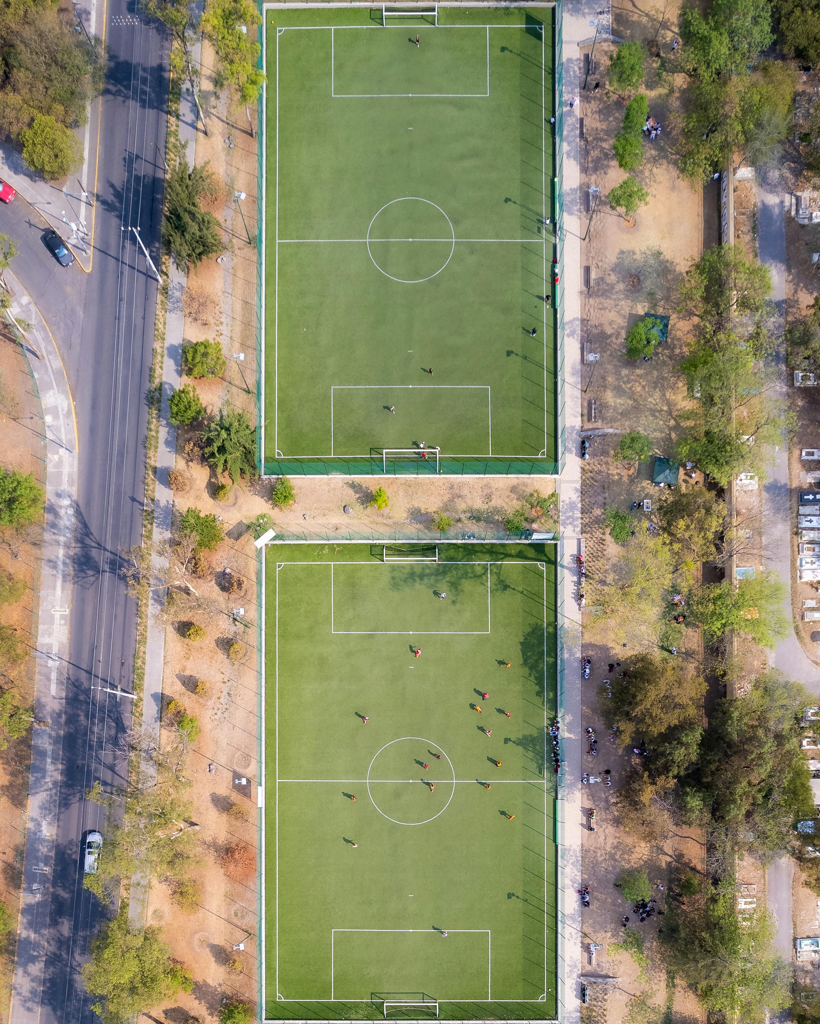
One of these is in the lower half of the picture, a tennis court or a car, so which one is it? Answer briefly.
car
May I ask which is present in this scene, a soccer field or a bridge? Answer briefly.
soccer field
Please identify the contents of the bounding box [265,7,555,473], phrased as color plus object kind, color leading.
green soccer field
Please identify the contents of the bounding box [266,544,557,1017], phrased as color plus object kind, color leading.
green soccer field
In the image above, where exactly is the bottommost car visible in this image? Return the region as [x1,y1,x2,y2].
[83,831,104,875]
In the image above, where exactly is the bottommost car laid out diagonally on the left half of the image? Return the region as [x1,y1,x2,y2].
[41,225,75,267]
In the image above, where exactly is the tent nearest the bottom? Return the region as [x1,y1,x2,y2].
[648,457,680,487]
